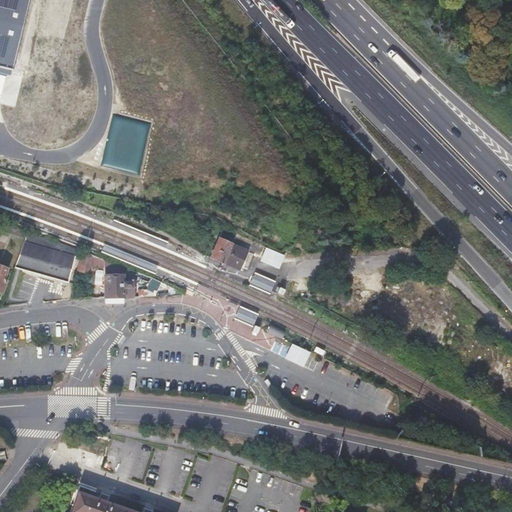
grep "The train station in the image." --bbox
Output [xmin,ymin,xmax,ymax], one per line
[0,182,212,290]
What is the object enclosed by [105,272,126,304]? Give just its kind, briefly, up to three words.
house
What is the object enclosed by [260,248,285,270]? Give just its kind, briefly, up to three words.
building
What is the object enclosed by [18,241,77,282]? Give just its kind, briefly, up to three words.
building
